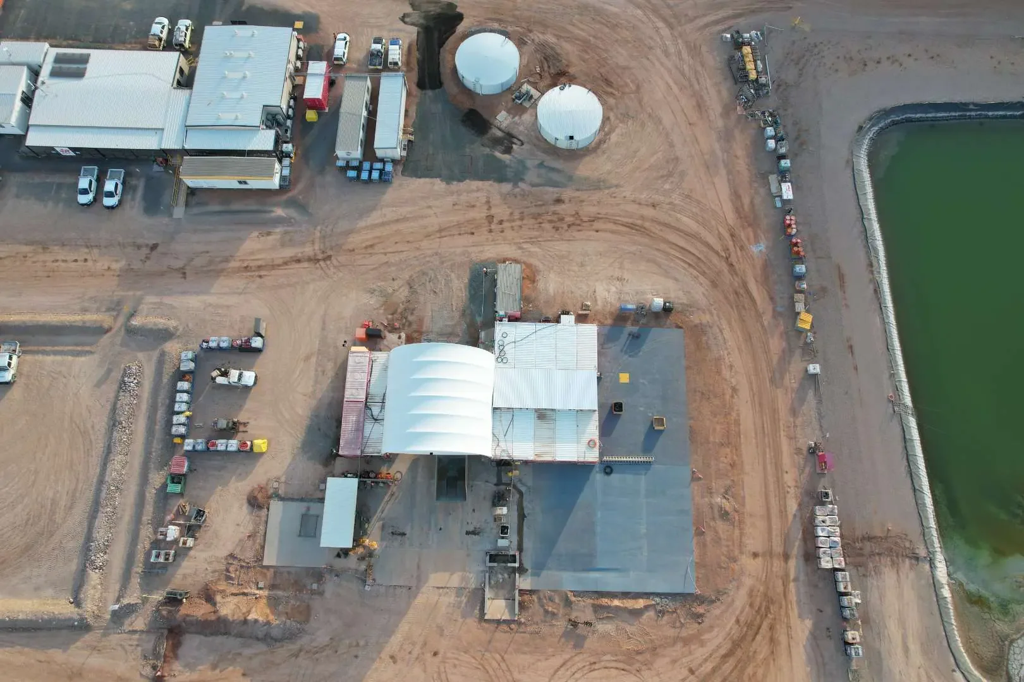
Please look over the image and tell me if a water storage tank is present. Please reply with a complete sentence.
Yes, the picture does show a water storage tank.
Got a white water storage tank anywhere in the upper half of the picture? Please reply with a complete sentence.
Yes, a white water storage tank shows up in the upper half of the picture.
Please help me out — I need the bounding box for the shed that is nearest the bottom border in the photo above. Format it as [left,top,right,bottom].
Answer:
[322,478,361,548]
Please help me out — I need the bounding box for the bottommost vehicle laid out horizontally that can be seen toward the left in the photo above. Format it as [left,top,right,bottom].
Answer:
[209,417,249,434]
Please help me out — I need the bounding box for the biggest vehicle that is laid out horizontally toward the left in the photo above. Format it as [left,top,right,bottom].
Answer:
[208,368,260,387]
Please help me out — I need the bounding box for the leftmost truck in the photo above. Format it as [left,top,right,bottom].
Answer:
[0,337,22,389]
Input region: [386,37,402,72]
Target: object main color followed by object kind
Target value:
white car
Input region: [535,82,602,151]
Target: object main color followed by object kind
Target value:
white water tank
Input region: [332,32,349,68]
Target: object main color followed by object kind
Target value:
white car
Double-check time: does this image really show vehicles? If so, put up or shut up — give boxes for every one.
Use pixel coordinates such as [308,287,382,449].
[171,17,193,53]
[367,35,384,73]
[332,32,349,68]
[208,368,260,387]
[386,37,402,72]
[101,166,124,211]
[0,337,22,389]
[209,417,249,434]
[146,15,171,51]
[74,163,98,208]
